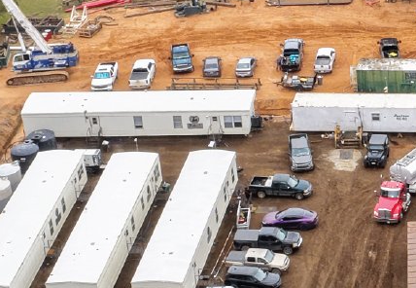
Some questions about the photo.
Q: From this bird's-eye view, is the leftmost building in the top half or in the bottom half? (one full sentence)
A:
You can find the leftmost building in the bottom half.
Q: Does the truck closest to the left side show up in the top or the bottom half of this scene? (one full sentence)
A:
It is in the top half that the truck closest to the left side appears.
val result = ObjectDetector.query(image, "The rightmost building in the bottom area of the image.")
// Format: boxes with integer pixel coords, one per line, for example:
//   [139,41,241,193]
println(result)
[130,149,239,288]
